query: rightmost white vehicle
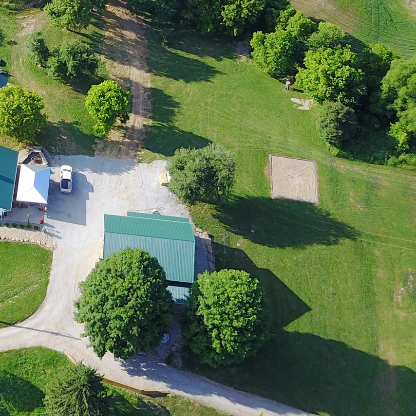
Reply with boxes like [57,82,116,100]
[59,164,74,195]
